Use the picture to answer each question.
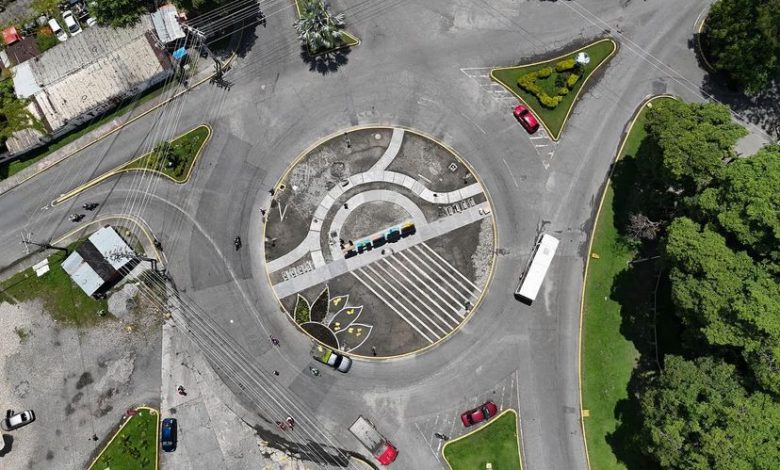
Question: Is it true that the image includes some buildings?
Yes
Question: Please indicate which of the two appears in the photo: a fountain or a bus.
bus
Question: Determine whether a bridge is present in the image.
No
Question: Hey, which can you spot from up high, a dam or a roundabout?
roundabout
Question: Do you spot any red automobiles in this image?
Yes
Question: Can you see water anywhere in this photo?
No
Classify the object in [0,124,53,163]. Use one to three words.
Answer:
shed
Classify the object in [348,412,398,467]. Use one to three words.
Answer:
truck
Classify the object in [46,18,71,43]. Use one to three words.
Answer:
car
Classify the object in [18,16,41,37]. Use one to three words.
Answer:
car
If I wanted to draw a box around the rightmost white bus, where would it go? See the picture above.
[516,232,560,301]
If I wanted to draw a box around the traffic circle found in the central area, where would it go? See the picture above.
[261,123,498,360]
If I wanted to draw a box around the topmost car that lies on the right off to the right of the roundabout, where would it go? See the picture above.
[512,107,541,133]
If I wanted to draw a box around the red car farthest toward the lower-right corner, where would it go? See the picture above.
[461,401,497,427]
